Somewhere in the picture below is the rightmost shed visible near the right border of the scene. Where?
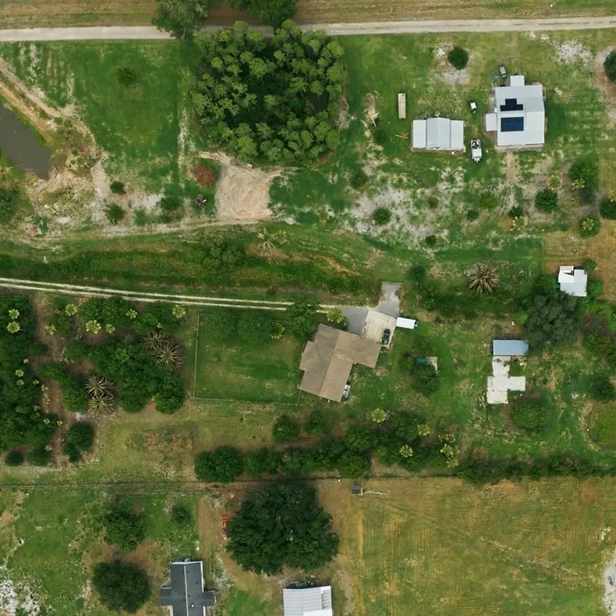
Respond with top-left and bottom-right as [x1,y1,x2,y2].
[558,266,587,296]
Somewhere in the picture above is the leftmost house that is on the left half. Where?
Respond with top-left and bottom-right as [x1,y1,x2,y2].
[160,558,216,616]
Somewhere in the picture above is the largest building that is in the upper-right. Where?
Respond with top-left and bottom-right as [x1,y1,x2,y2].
[485,75,544,152]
